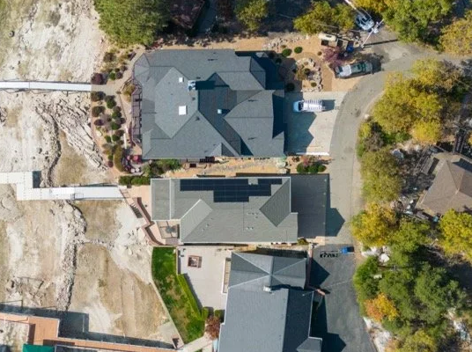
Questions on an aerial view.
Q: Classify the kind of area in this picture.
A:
residential area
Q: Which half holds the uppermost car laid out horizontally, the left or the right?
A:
right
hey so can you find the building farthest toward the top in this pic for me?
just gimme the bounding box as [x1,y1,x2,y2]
[135,51,284,161]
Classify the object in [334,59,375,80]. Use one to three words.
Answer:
car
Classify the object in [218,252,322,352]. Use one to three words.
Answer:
house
